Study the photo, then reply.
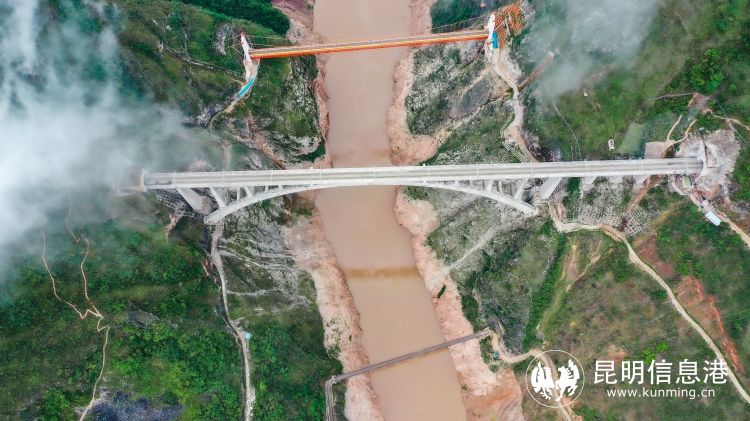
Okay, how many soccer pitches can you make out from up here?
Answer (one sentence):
The photo contains no soccer pitches.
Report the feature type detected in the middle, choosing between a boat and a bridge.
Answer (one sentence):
You can see a bridge in the middle.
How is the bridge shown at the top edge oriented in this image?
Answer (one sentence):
In this picture, the bridge shown at the top edge lies from left to right.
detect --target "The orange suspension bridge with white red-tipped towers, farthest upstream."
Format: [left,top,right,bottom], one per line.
[218,4,514,76]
